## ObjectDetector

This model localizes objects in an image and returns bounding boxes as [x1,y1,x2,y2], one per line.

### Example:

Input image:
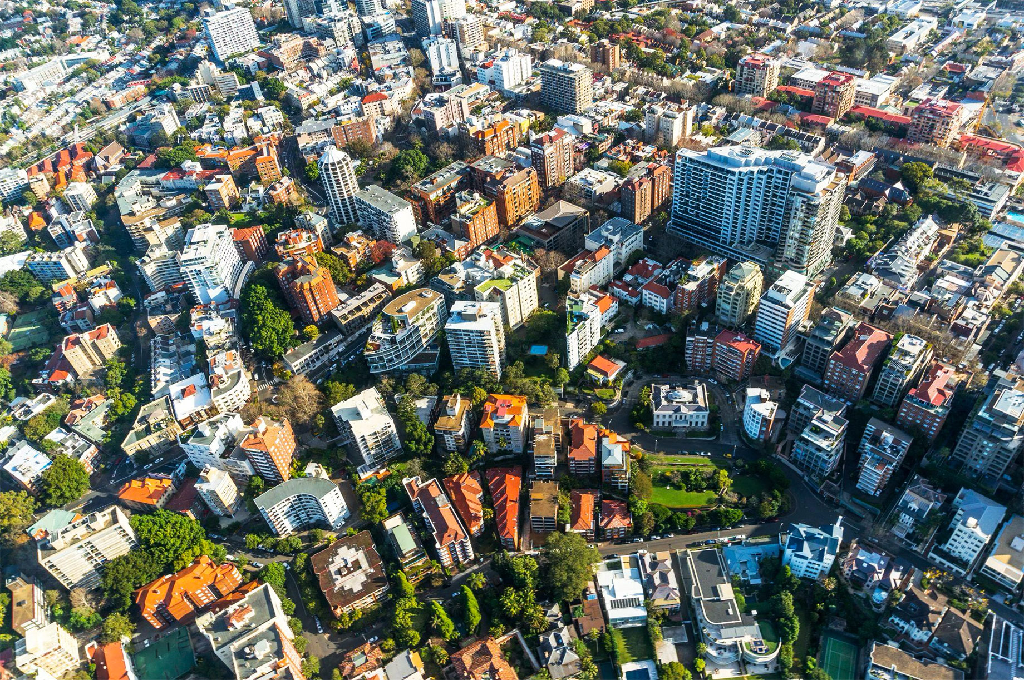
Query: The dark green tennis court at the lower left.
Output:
[127,628,198,680]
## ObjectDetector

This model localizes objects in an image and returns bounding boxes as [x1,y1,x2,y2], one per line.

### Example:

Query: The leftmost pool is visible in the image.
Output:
[528,344,550,356]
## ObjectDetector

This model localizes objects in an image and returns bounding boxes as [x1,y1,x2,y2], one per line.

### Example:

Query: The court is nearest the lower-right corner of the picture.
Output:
[815,625,868,680]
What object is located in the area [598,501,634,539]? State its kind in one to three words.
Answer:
building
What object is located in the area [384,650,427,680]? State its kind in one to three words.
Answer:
house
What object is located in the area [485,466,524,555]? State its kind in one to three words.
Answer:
building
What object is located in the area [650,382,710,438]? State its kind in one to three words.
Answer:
house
